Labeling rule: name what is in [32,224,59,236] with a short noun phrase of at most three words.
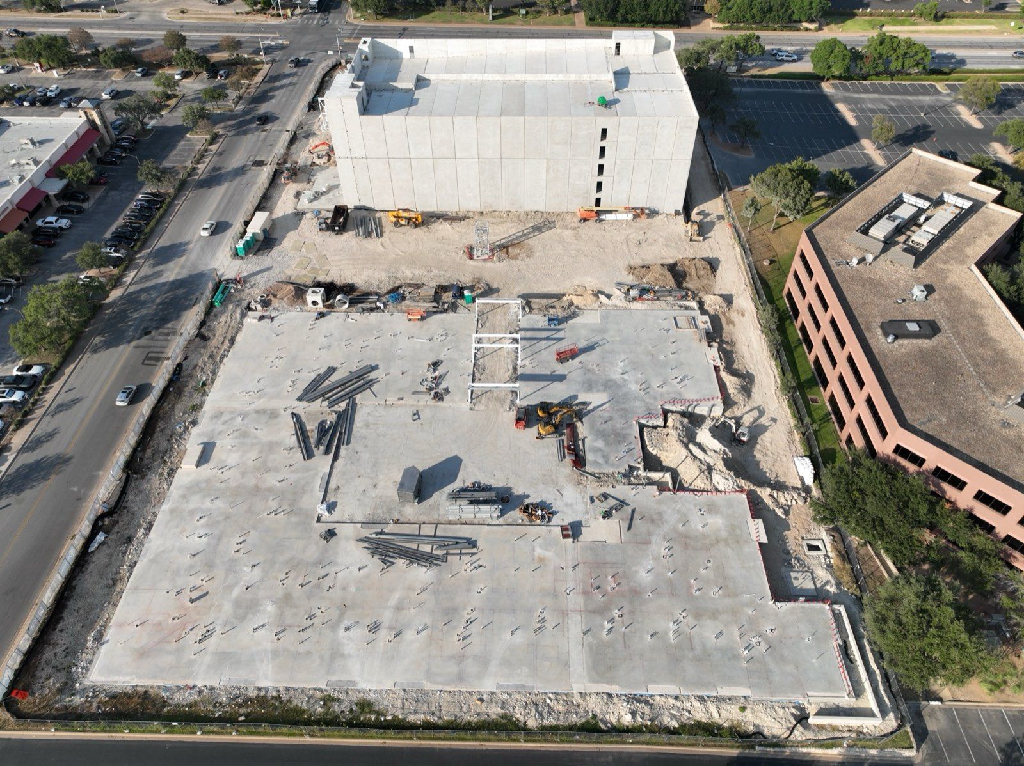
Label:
vehicle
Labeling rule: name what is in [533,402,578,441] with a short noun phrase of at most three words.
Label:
work vehicle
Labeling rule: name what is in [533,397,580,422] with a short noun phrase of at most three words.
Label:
work vehicle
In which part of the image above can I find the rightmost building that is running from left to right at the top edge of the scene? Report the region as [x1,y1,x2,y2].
[324,30,700,213]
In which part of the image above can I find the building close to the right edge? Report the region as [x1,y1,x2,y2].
[786,149,1024,587]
